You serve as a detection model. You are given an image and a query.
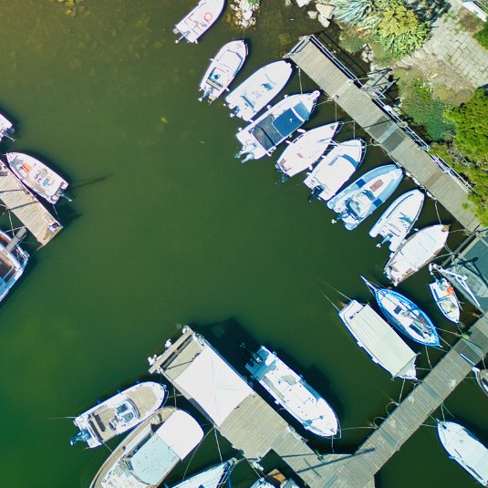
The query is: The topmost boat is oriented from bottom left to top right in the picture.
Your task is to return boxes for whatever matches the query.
[175,0,226,44]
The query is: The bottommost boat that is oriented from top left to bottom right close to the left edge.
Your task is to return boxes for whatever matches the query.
[7,153,69,203]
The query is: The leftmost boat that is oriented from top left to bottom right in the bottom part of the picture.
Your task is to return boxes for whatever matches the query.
[235,337,342,439]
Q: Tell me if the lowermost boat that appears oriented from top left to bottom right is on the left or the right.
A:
right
